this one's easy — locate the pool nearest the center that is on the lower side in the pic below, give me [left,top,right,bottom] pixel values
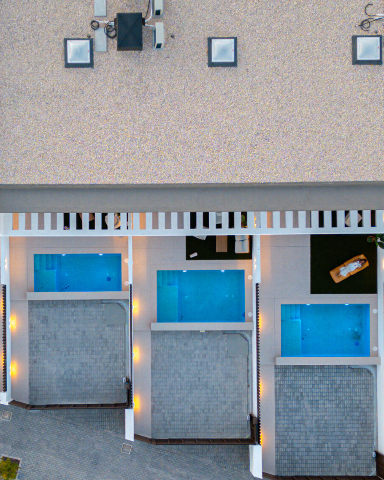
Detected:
[151,270,252,330]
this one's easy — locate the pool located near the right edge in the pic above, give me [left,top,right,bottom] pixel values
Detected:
[274,304,378,365]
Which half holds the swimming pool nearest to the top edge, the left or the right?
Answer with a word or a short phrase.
left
